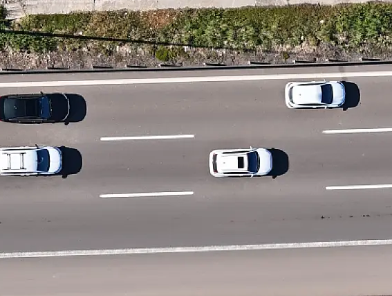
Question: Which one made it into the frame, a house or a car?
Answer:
car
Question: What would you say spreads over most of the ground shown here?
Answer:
paved ground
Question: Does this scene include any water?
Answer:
No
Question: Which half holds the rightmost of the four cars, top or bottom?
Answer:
top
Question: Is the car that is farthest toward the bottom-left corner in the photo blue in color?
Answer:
No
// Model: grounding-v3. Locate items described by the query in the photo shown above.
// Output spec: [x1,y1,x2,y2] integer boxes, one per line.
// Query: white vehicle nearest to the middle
[209,146,273,180]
